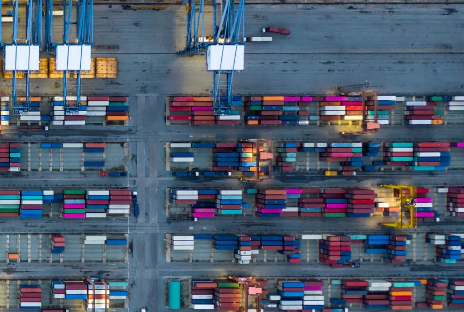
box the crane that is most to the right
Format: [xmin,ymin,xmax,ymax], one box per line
[376,181,414,230]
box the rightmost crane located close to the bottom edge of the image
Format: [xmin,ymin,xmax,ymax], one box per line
[229,272,264,312]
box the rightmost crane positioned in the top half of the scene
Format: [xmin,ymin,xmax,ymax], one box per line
[341,90,383,138]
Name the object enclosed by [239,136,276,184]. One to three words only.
container crane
